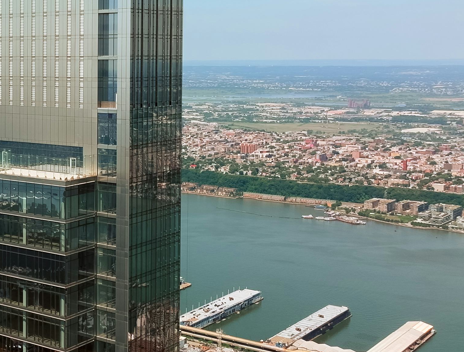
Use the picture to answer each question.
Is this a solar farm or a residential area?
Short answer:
residential area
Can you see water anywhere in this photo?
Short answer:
Yes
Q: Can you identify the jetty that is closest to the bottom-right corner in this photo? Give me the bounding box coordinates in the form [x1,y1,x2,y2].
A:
[369,322,441,352]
